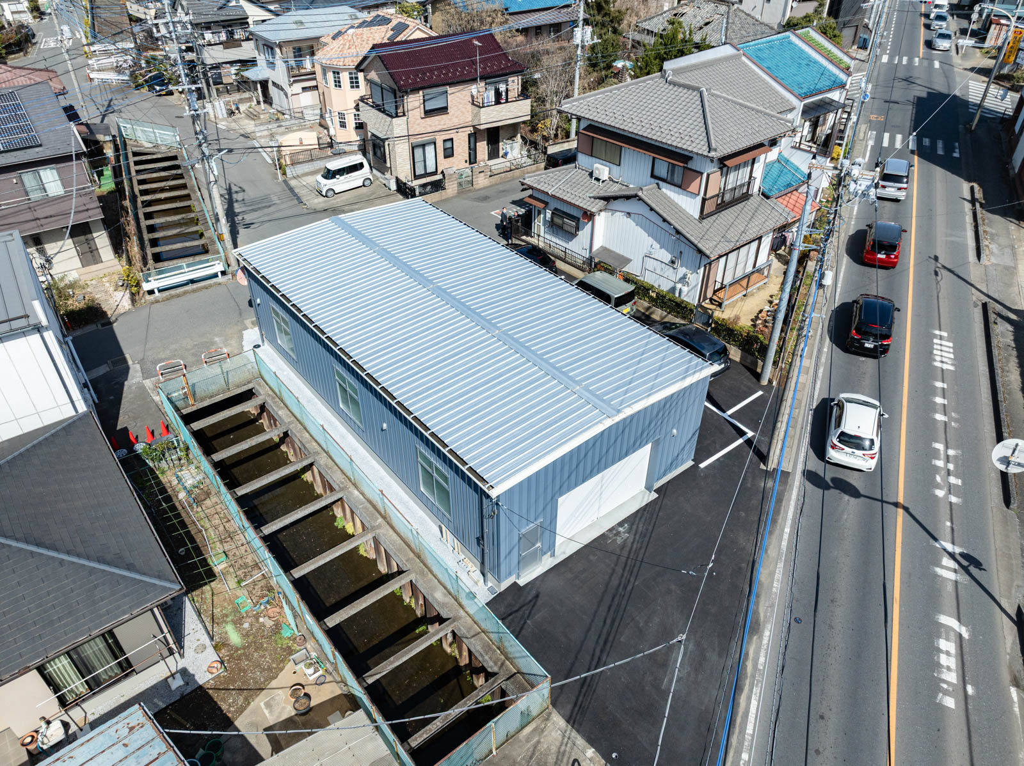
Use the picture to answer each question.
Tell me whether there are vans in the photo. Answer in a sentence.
Yes, the picture does show a van.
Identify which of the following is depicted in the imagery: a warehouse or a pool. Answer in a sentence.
I can see a warehouse in this picture.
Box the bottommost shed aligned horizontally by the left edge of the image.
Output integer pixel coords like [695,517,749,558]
[33,705,172,766]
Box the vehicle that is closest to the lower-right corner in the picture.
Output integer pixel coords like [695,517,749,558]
[826,385,893,468]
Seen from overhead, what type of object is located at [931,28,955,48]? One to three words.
car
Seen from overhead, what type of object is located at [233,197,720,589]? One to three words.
warehouse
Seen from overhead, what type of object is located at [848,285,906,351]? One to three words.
car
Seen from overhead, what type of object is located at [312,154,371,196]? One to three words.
van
